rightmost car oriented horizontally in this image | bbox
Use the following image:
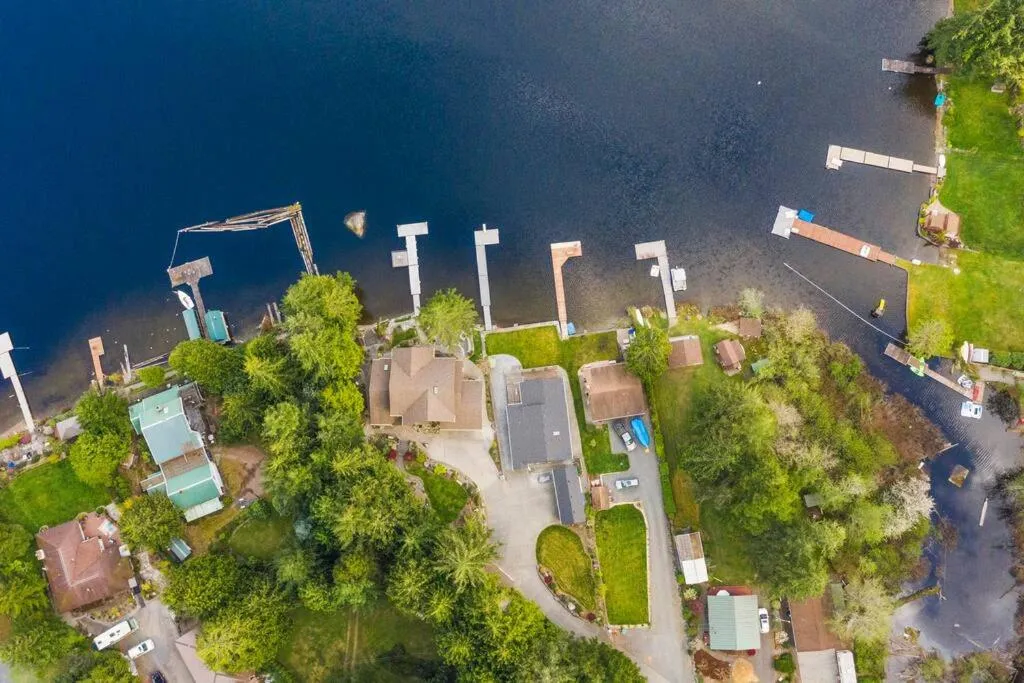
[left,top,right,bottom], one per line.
[614,476,641,491]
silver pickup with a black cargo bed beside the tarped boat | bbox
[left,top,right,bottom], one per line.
[612,419,638,453]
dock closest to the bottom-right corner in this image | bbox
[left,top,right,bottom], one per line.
[882,343,985,403]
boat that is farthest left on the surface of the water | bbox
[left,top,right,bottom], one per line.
[170,291,193,310]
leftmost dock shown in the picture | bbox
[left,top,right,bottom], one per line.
[0,332,35,431]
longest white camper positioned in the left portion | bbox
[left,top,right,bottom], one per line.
[84,619,138,656]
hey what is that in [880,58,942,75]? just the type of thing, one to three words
pier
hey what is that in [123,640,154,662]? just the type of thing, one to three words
truck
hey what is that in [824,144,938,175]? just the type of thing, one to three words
pier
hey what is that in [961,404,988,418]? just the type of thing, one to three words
boat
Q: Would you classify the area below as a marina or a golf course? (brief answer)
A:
marina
